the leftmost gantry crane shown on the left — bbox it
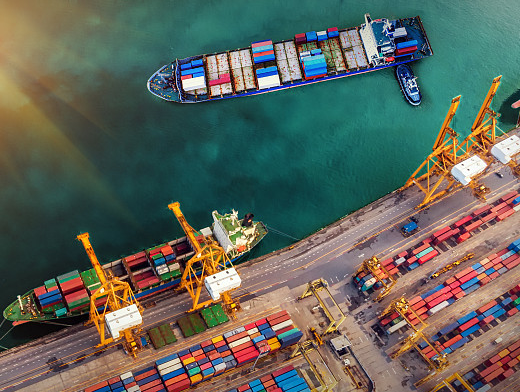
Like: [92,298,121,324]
[81,225,150,360]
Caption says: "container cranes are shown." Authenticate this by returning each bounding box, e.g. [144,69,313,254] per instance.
[374,297,433,349]
[296,279,349,339]
[81,225,150,360]
[347,255,401,307]
[422,372,474,392]
[168,194,240,321]
[426,71,520,196]
[287,340,344,392]
[391,335,455,388]
[389,91,493,215]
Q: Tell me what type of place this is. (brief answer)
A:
port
